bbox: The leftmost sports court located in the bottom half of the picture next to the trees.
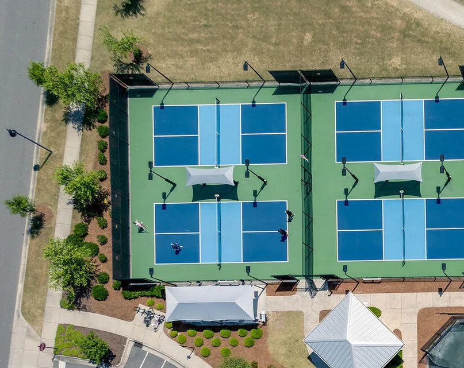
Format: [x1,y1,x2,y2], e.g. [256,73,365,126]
[129,183,313,282]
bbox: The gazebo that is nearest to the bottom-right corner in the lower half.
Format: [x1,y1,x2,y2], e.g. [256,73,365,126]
[303,292,406,368]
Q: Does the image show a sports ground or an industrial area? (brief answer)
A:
sports ground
